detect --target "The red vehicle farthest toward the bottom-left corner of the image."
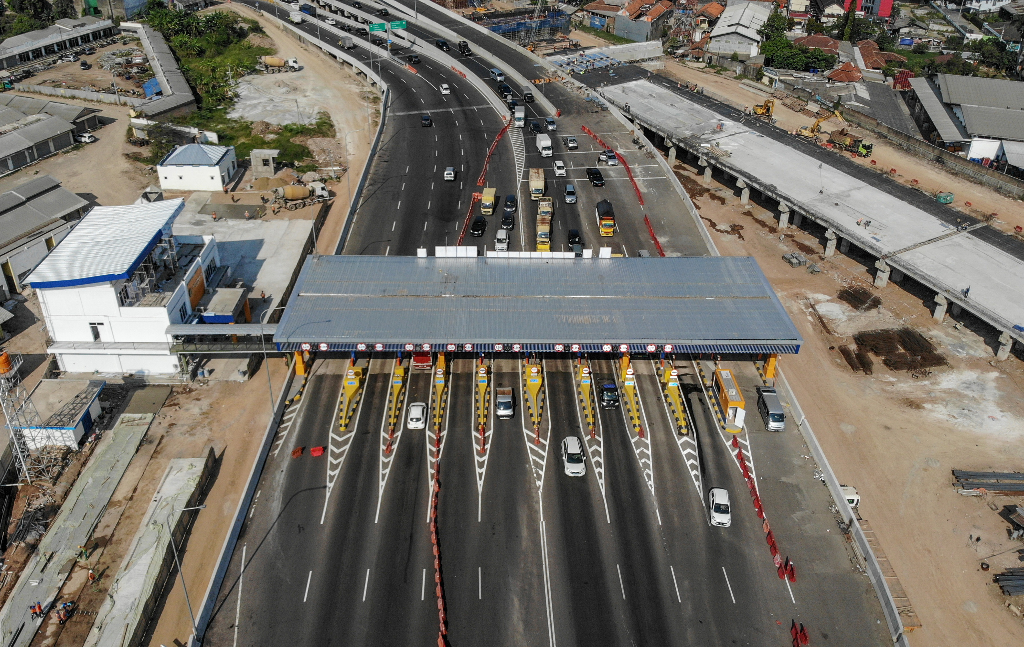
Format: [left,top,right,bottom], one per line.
[411,352,432,373]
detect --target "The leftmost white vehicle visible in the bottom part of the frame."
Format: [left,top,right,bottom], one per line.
[405,405,428,432]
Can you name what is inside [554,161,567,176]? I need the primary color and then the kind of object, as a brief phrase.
white vehicle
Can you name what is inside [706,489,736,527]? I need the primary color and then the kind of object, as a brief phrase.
white car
